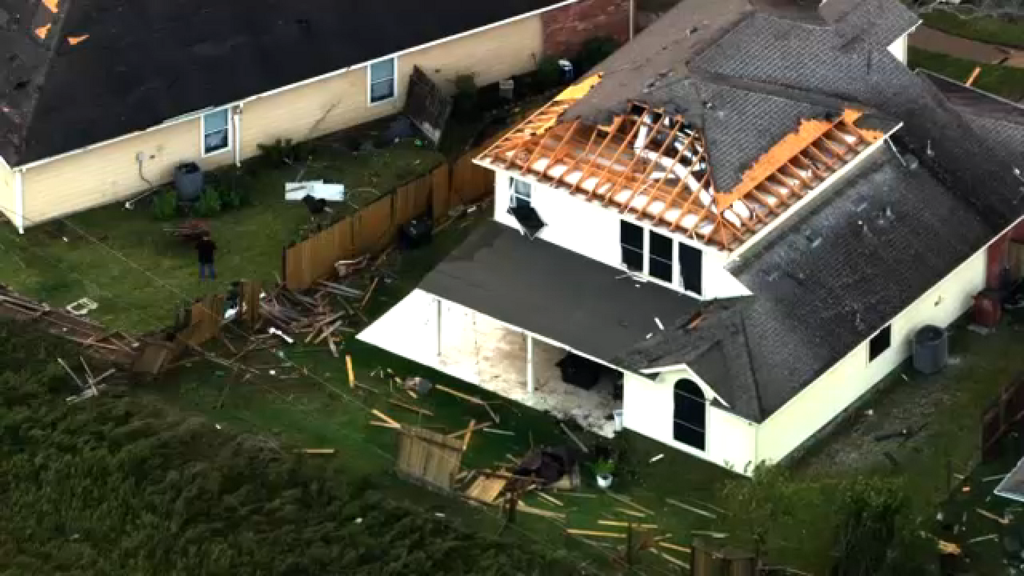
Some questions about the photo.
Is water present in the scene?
No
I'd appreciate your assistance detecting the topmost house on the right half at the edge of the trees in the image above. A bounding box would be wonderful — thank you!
[416,0,1024,479]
